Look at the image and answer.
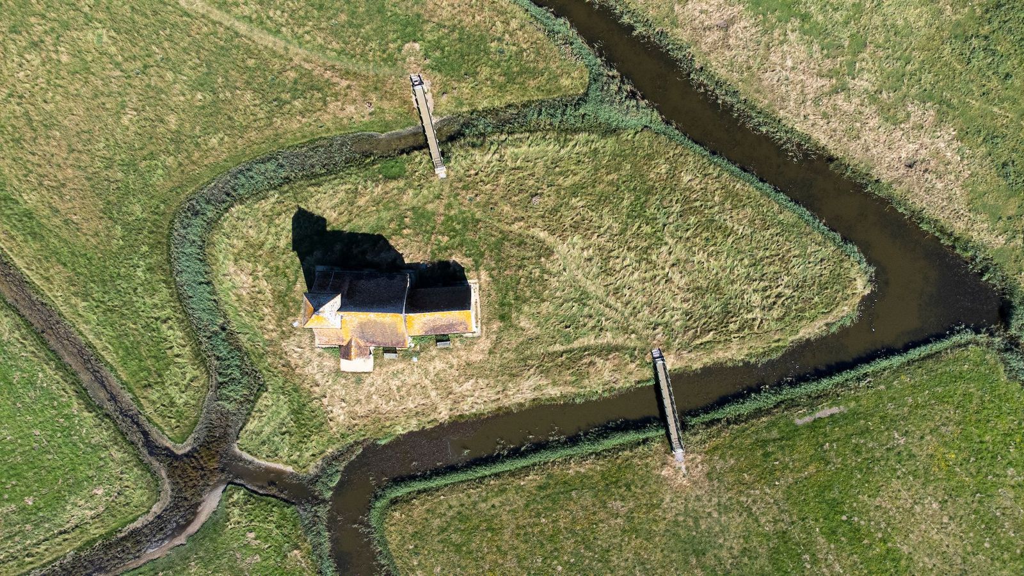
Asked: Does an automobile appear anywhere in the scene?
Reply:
No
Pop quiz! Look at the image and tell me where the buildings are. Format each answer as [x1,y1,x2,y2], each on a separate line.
[304,273,478,361]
